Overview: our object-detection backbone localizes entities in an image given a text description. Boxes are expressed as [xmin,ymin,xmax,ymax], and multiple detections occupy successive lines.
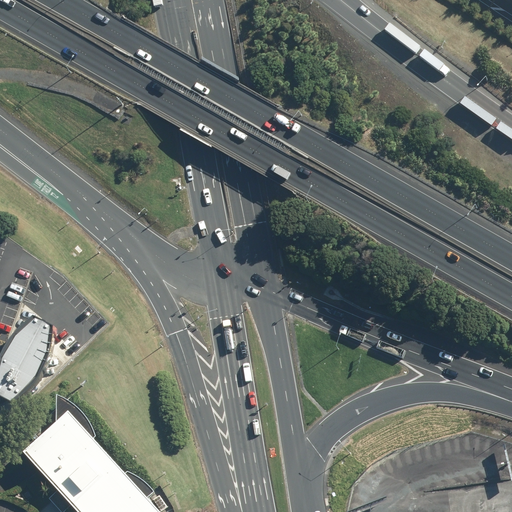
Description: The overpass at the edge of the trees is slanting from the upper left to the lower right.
[138,26,292,191]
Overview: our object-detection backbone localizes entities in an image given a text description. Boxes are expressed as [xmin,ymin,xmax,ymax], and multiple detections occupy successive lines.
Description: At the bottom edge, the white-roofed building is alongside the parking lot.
[24,394,159,512]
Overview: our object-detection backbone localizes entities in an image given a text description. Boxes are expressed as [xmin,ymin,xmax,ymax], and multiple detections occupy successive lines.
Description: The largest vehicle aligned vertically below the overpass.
[222,320,235,354]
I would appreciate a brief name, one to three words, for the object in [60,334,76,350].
car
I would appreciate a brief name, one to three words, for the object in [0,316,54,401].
building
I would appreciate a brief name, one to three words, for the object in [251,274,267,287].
vehicle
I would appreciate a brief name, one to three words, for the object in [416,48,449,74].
truck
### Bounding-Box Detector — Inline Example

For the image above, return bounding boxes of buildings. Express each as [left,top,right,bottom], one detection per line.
[24,394,159,512]
[0,316,54,401]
